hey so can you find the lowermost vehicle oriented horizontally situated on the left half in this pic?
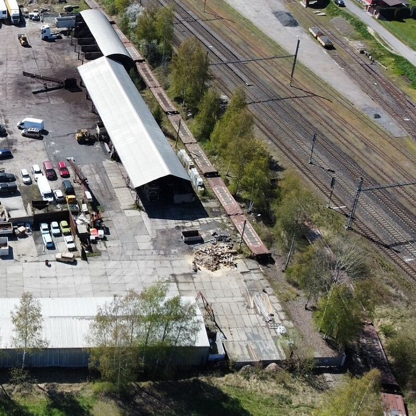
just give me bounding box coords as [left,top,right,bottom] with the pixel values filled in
[51,250,79,263]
